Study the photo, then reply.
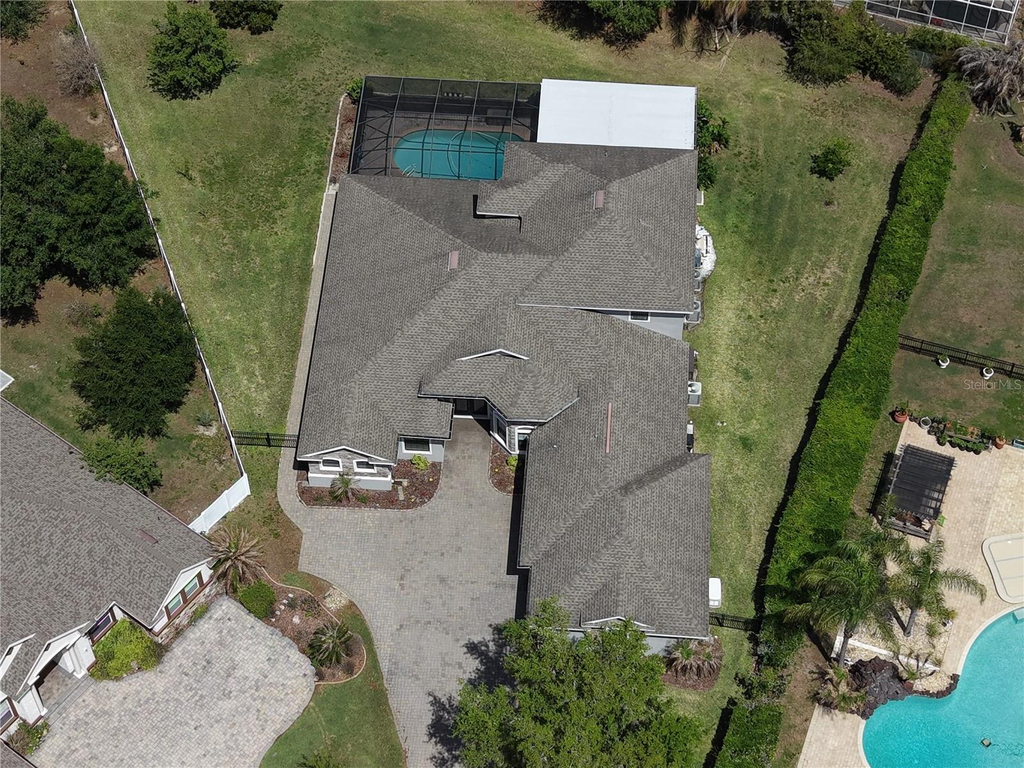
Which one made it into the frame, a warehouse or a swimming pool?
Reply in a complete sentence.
This aerial view contains a swimming pool.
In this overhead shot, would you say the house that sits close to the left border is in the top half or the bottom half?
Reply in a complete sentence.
Seen from above, the house that sits close to the left border lies in the bottom half of the view.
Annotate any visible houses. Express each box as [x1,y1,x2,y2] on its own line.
[0,395,220,768]
[293,139,713,654]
